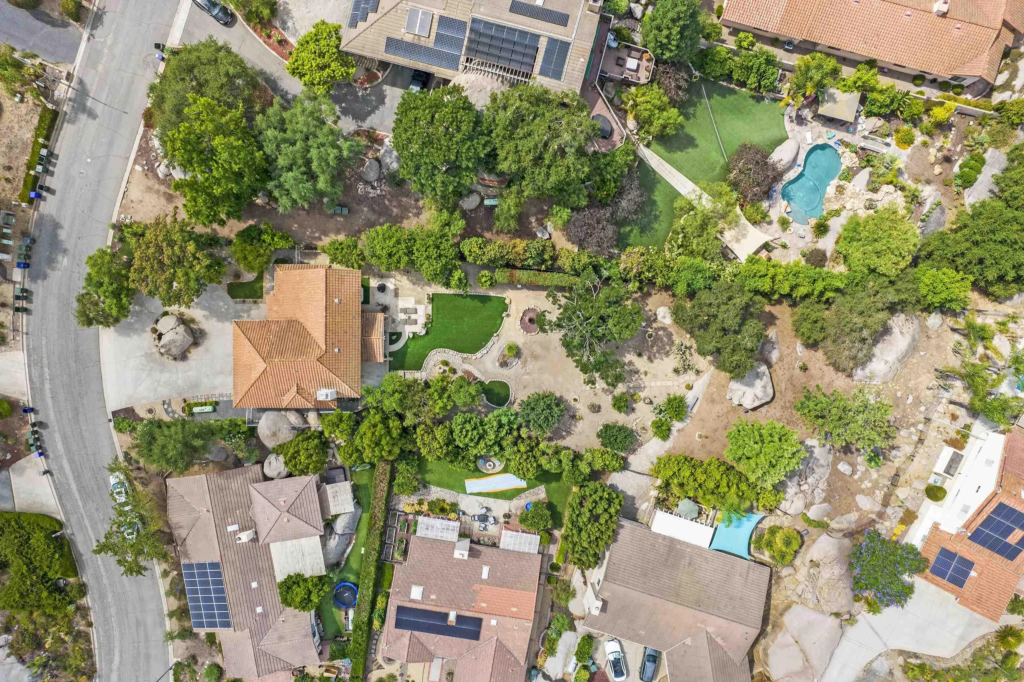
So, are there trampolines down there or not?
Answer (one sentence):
Yes, I can see a trampoline in this picture.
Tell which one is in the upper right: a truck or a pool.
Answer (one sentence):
What appears in the upper right is a pool.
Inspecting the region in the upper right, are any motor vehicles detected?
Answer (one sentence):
No, no motor vehicle appears in the upper right.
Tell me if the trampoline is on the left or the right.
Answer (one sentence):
The trampoline sits on the left side.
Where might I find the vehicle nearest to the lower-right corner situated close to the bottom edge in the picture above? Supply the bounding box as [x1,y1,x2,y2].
[637,646,662,682]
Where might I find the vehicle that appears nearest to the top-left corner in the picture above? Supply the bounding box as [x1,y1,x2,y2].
[193,0,236,28]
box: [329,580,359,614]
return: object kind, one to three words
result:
trampoline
